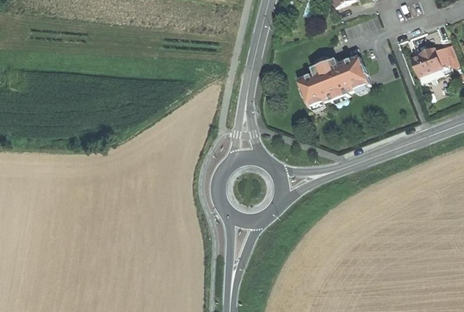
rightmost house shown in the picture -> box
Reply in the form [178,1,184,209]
[411,34,461,85]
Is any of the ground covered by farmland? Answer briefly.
Yes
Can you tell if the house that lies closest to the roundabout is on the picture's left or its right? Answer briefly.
right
